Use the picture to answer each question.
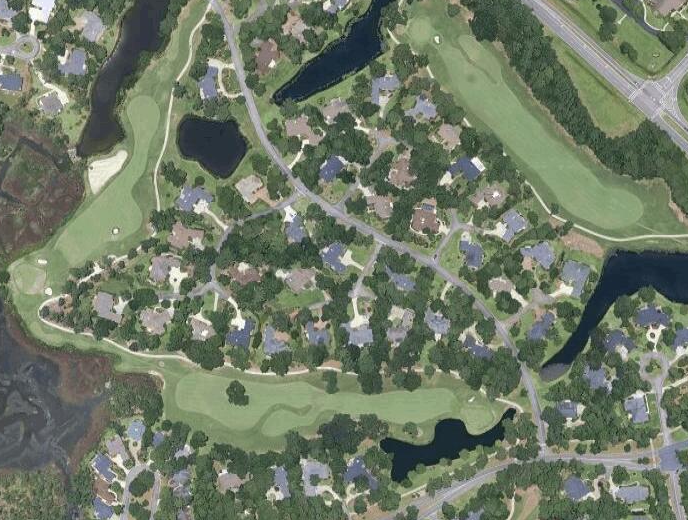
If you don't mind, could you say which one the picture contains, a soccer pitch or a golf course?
golf course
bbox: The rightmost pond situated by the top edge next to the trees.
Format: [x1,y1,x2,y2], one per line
[274,0,394,105]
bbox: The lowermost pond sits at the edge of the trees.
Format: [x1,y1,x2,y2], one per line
[381,409,517,482]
